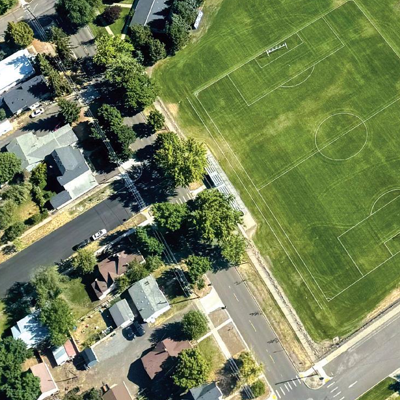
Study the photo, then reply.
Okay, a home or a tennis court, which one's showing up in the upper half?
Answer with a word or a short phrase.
home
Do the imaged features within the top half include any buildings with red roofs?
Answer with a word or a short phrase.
No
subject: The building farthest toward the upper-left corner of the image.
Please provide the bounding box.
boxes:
[0,49,37,98]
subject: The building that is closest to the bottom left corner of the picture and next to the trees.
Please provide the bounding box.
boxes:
[32,358,60,400]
